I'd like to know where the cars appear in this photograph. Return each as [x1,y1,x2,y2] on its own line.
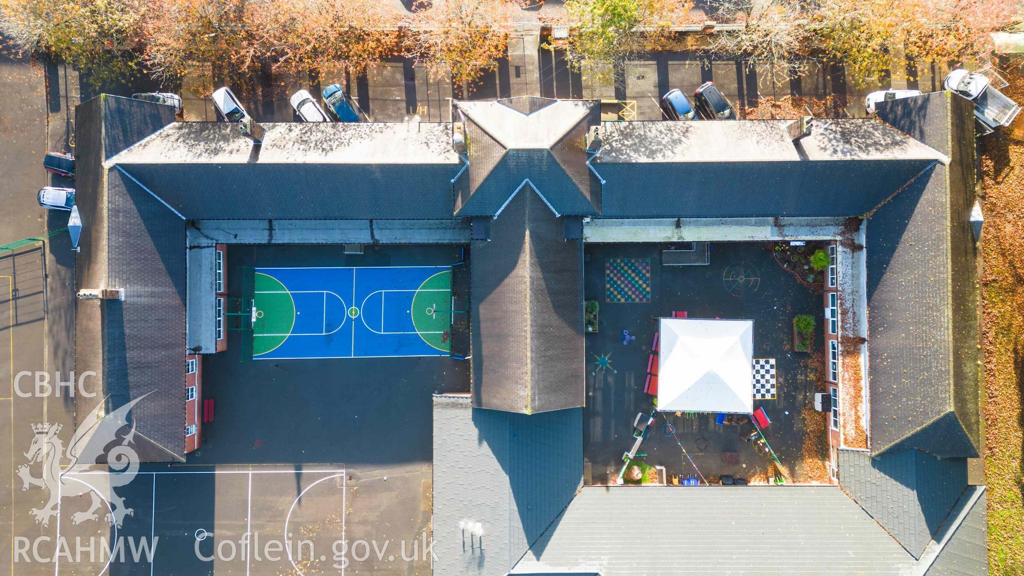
[41,151,74,179]
[863,88,918,112]
[289,88,329,121]
[131,90,186,115]
[35,187,74,212]
[662,86,699,119]
[323,81,367,121]
[696,81,738,118]
[211,89,248,121]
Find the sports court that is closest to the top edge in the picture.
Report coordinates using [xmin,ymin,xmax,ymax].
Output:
[253,266,452,359]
